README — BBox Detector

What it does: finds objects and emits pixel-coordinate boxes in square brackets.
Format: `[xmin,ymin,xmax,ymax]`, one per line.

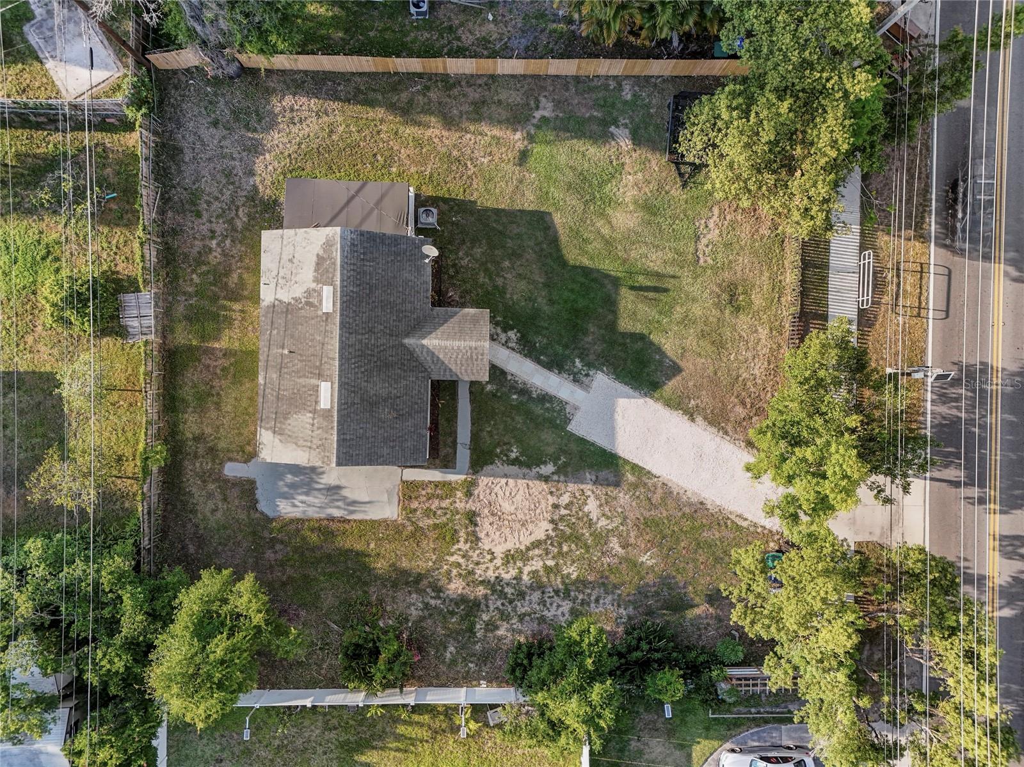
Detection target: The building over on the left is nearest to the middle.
[257,178,494,466]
